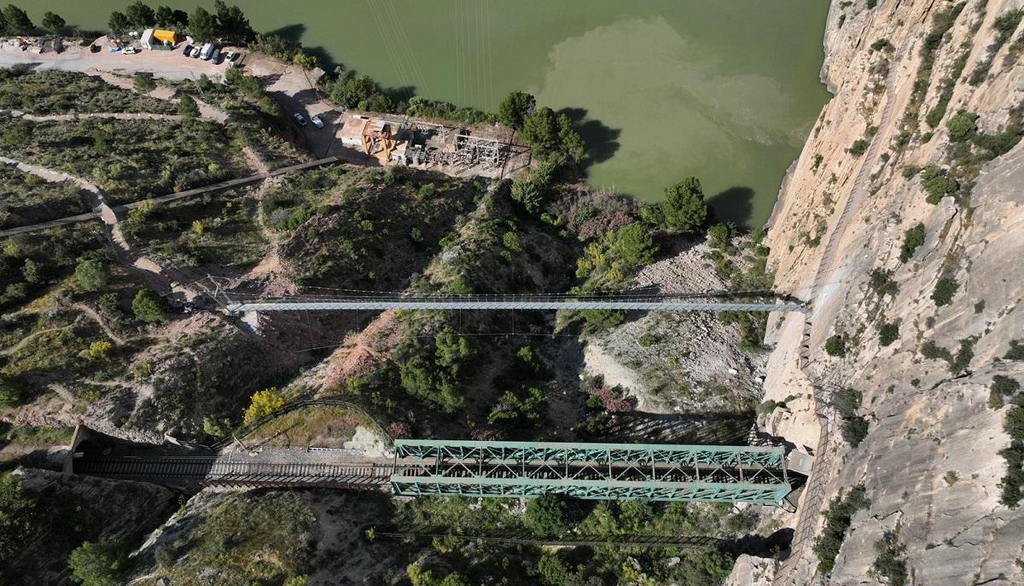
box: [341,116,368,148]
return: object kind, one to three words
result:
building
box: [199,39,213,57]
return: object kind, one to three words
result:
vehicle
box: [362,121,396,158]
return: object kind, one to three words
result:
building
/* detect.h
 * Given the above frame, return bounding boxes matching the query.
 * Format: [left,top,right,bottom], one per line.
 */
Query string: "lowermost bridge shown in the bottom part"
[386,443,799,521]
